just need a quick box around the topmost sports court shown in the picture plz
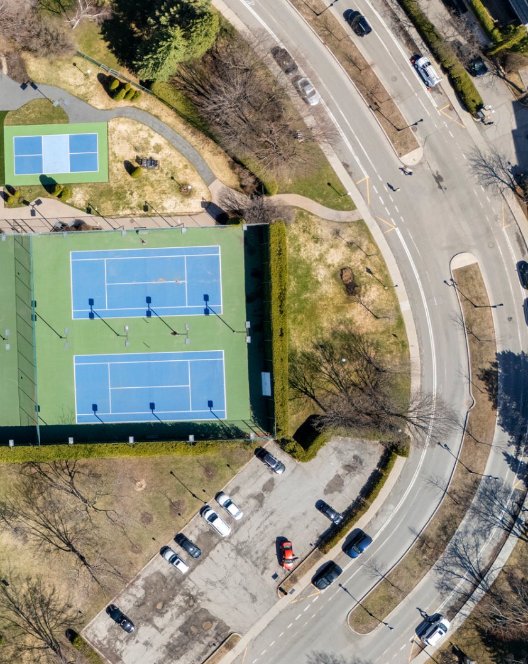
[4,121,108,185]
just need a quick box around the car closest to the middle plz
[255,447,284,474]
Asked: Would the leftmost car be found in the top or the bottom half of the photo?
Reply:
bottom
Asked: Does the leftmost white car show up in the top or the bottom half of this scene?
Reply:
bottom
